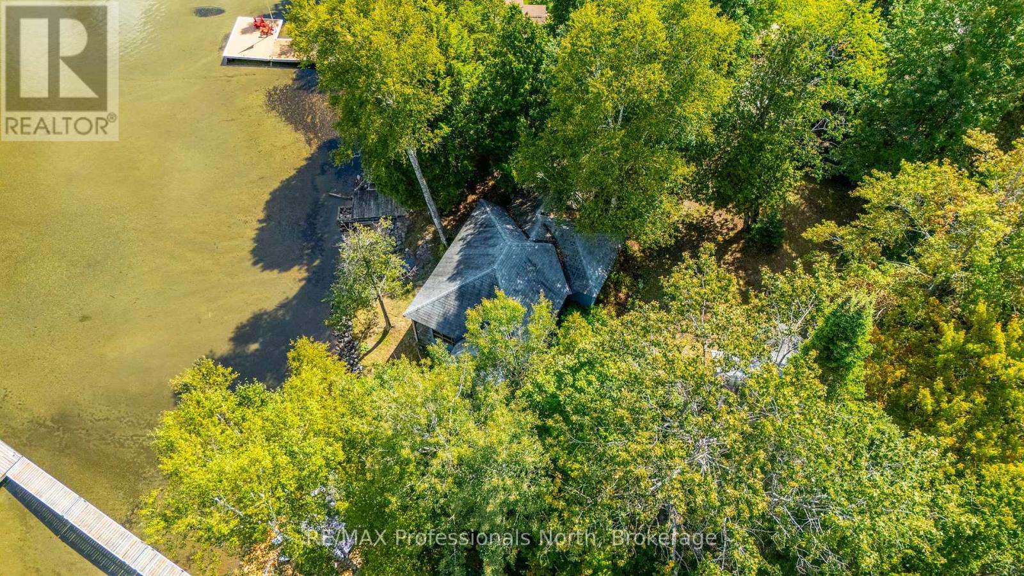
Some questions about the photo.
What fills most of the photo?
trees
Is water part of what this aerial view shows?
Yes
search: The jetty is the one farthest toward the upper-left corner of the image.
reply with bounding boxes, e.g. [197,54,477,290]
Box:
[211,14,318,71]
